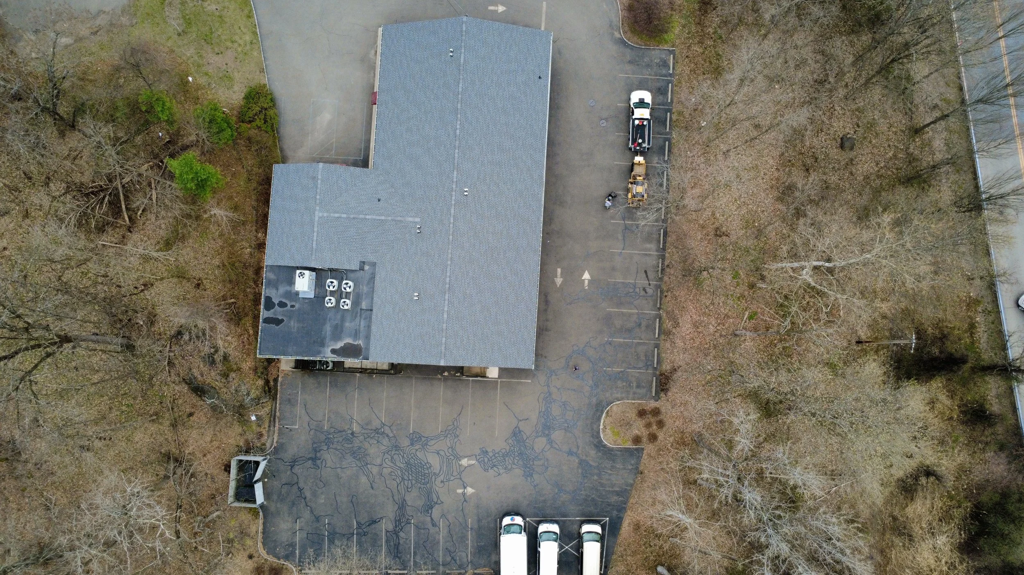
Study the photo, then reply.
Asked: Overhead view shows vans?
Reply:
Yes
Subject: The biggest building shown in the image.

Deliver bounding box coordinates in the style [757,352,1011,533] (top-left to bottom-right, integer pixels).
[256,15,554,370]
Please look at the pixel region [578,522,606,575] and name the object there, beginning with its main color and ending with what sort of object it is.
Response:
white van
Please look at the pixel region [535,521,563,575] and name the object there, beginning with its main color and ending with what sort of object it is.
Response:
white van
